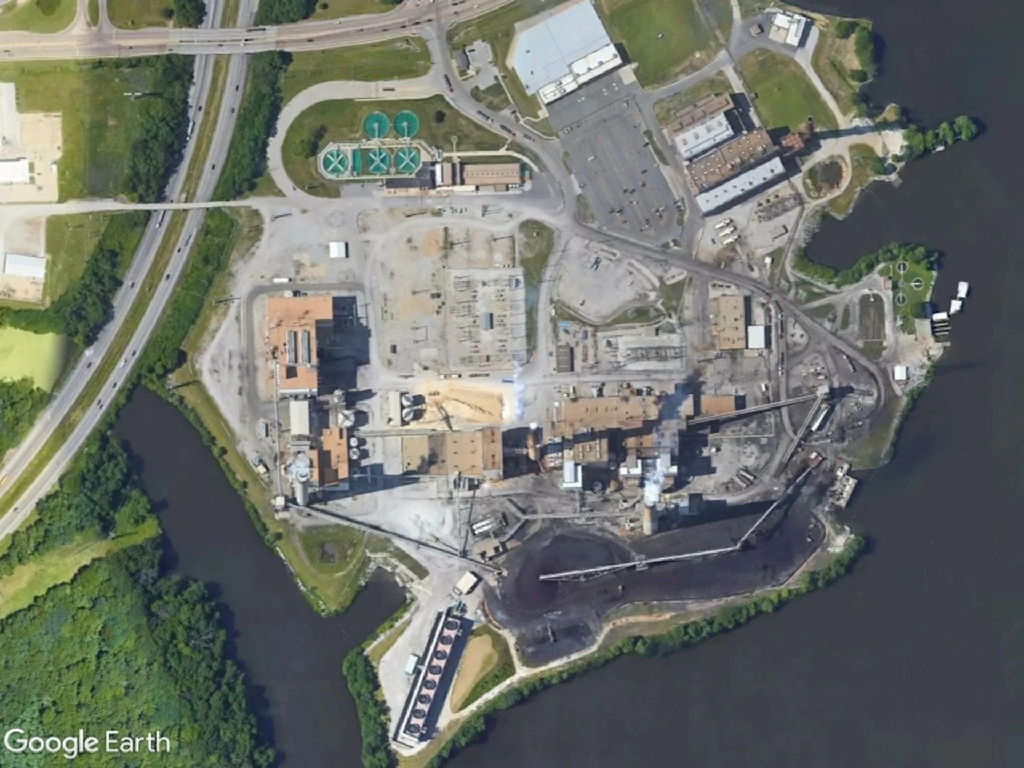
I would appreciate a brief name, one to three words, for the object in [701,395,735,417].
building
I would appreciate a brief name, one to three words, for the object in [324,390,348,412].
silo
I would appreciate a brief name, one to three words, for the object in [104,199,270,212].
bridge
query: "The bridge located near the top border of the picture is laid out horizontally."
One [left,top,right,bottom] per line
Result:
[167,24,277,55]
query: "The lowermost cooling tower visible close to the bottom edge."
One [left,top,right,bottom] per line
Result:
[392,613,463,750]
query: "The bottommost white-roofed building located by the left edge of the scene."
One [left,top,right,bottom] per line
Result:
[4,253,45,279]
